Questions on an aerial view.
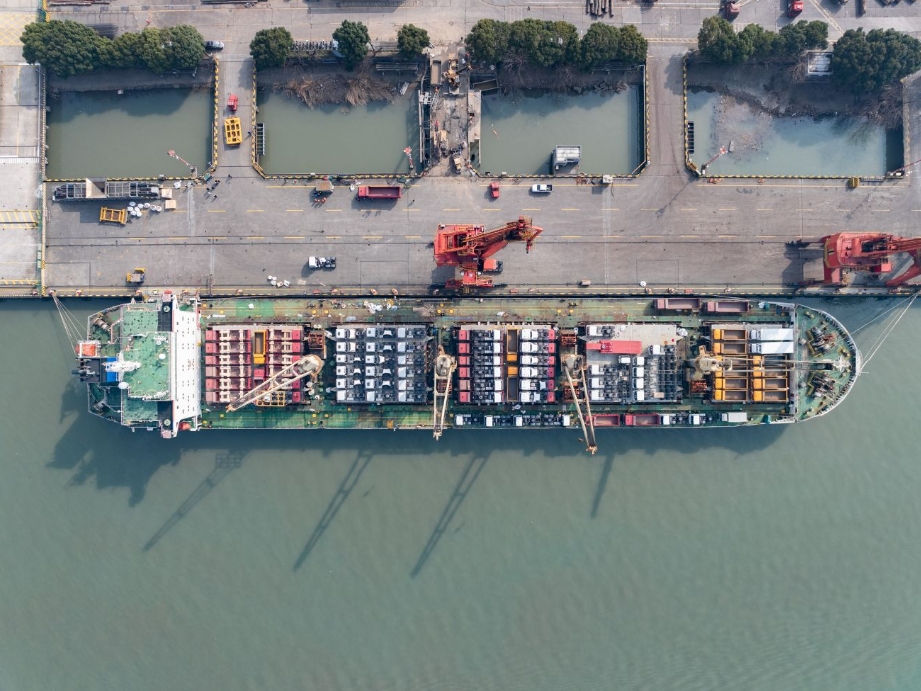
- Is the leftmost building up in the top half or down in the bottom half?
top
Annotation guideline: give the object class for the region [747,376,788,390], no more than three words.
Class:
vehicle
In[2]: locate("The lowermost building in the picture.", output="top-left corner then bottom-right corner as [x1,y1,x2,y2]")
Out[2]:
[548,144,582,176]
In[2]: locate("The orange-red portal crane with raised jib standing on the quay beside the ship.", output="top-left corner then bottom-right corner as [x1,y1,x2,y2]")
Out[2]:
[434,218,543,287]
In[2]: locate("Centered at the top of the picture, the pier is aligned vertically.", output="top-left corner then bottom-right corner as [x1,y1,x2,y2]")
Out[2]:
[468,91,480,166]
